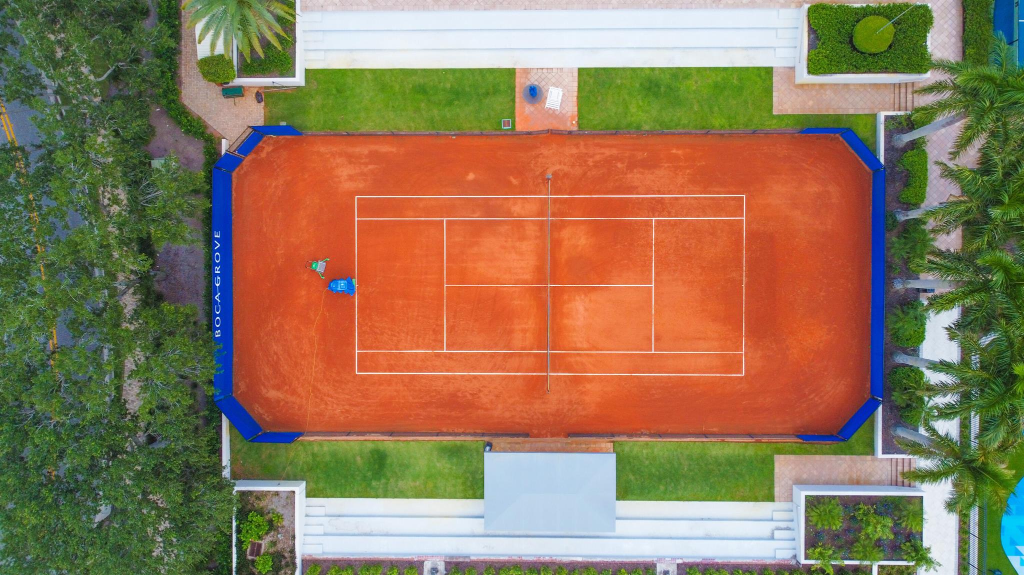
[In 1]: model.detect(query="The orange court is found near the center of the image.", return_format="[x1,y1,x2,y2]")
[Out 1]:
[232,134,873,438]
